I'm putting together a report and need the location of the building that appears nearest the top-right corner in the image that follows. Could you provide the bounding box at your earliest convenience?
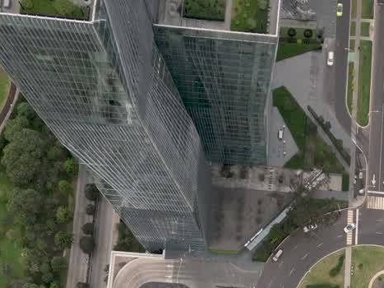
[157,0,280,166]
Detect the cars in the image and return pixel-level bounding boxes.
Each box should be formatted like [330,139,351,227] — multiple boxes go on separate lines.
[336,3,343,16]
[273,249,283,261]
[342,222,357,233]
[302,223,317,233]
[328,51,334,65]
